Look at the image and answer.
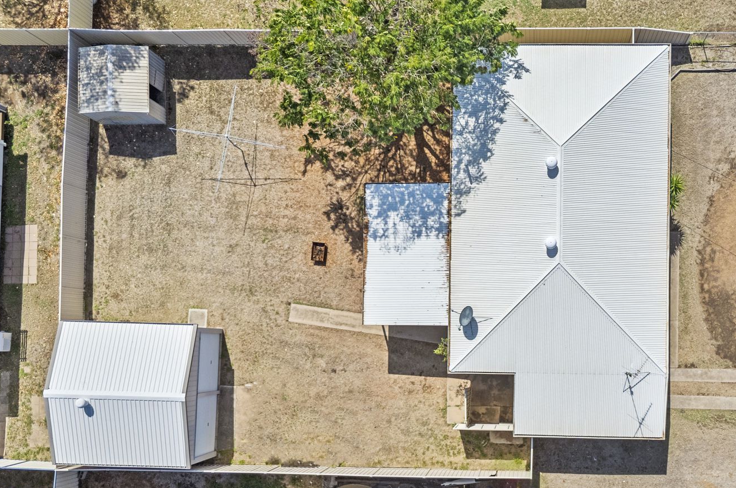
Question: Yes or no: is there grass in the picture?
Yes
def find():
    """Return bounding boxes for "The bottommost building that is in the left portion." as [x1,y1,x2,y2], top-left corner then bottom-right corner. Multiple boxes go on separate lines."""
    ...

[45,317,221,471]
